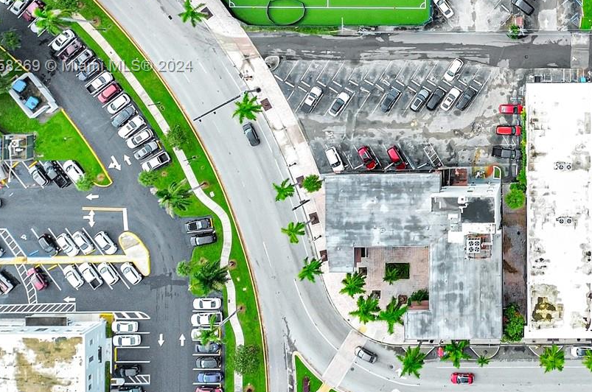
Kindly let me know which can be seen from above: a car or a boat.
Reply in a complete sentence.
I can see a car in this picture.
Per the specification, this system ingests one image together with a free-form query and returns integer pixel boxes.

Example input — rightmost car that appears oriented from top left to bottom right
[511,0,534,17]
